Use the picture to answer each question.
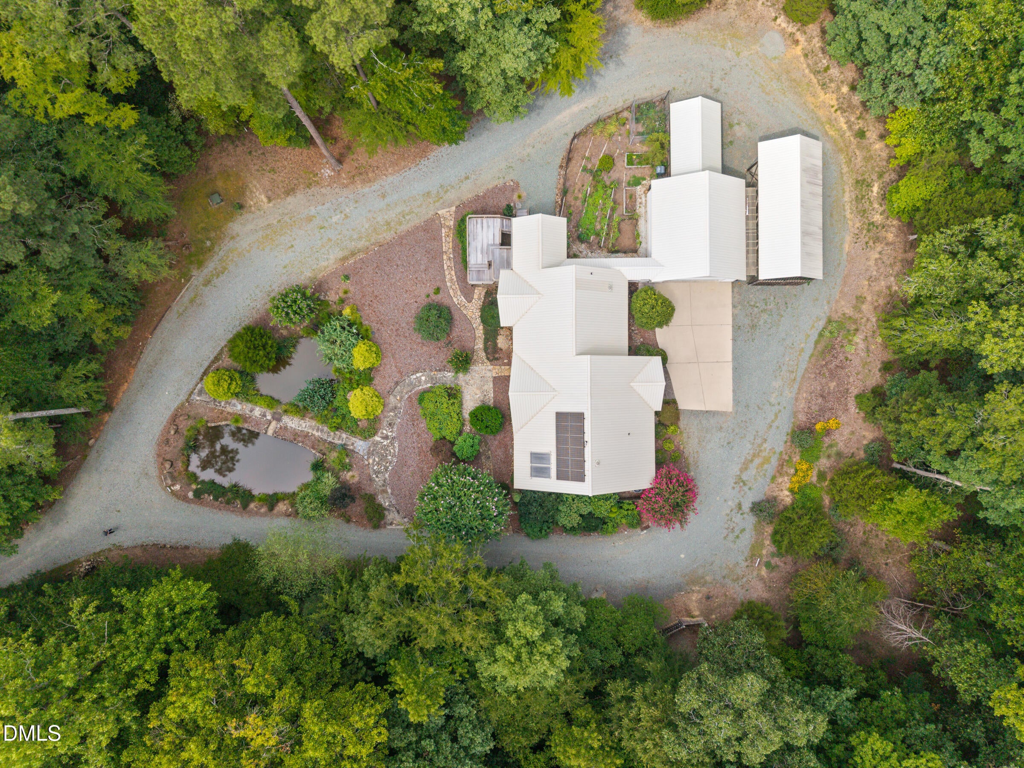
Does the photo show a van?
No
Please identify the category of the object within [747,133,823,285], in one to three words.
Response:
barn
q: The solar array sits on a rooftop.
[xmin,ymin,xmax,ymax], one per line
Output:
[555,411,589,482]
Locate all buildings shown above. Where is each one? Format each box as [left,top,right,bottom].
[648,169,747,285]
[747,133,823,285]
[497,213,667,496]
